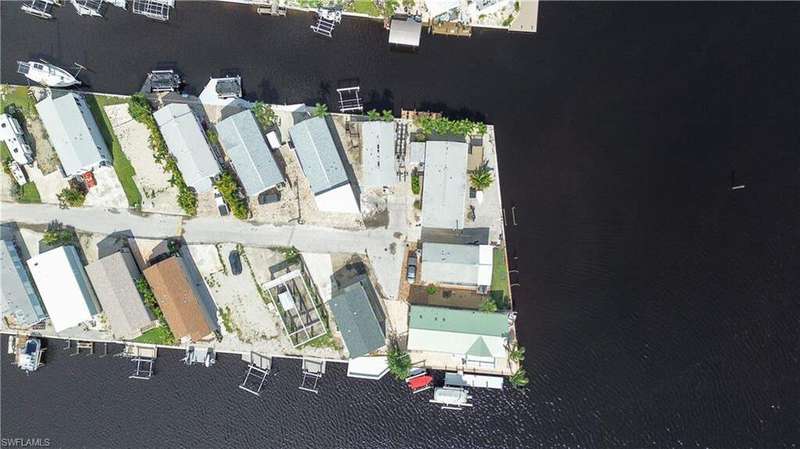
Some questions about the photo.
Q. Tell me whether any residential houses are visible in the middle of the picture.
Yes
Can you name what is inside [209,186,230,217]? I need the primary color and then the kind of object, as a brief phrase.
white vehicle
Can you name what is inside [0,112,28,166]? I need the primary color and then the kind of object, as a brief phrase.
white vehicle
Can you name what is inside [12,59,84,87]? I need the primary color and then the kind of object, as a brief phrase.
white boat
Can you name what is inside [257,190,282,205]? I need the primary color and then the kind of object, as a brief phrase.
gray car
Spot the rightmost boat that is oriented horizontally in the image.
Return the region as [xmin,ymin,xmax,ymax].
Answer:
[434,387,471,407]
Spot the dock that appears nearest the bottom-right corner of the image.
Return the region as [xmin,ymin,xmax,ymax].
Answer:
[463,374,503,389]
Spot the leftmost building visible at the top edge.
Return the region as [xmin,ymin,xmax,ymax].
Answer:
[388,19,421,52]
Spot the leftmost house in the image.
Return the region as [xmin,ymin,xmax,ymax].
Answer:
[0,240,46,333]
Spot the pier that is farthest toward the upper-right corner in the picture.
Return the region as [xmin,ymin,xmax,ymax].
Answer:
[433,20,472,39]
